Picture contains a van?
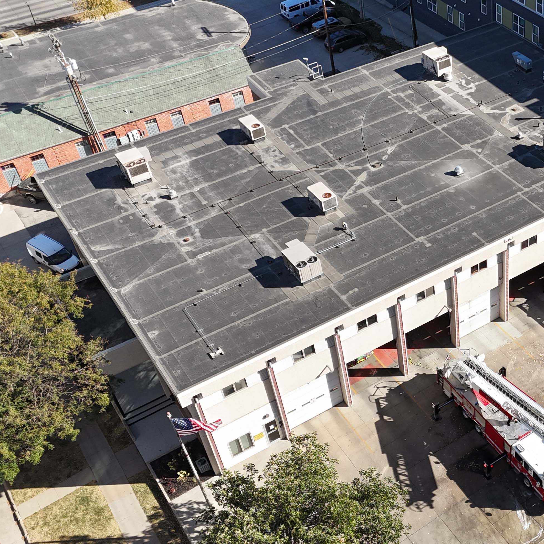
Yes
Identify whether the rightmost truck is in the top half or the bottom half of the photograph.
bottom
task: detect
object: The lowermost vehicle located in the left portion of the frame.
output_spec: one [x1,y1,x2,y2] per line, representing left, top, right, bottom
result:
[21,235,82,279]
